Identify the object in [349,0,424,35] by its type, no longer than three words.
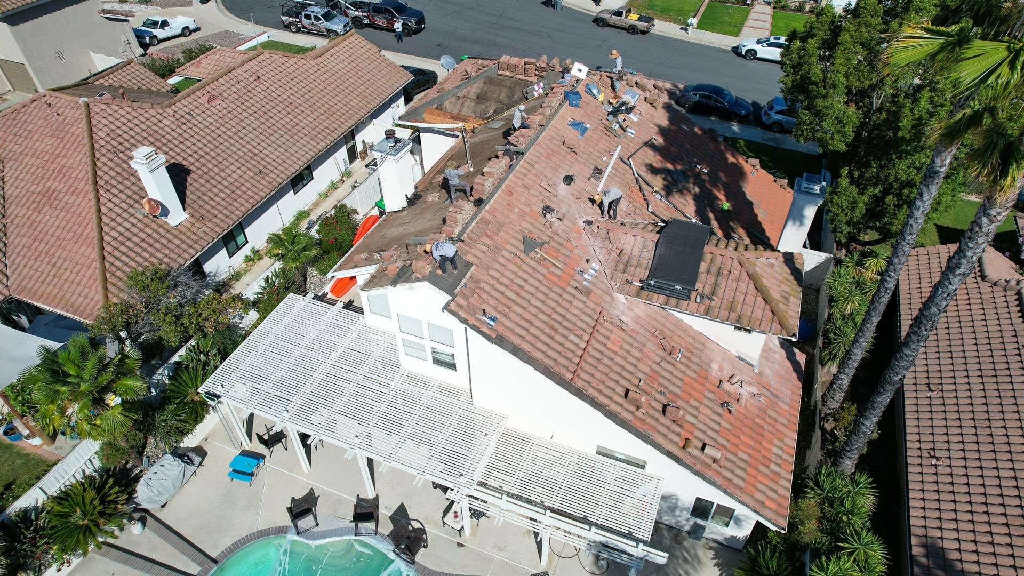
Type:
truck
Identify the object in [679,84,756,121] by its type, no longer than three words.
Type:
car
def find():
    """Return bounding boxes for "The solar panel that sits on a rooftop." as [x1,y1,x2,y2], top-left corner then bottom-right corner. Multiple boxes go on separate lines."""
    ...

[629,217,715,300]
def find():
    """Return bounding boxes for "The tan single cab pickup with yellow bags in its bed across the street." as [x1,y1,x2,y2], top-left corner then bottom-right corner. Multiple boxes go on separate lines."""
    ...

[594,5,654,35]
